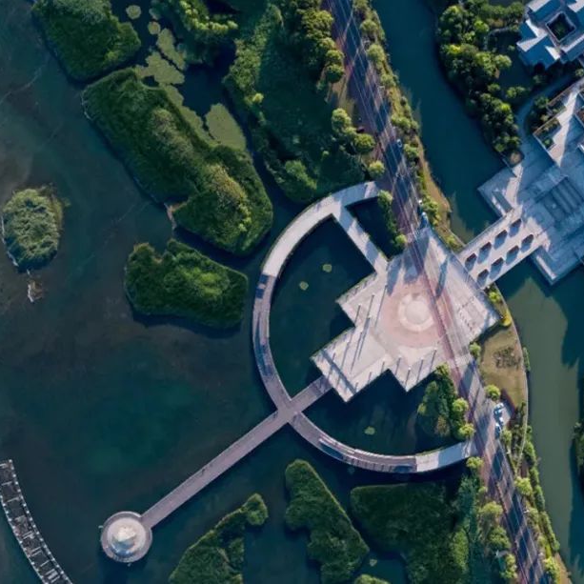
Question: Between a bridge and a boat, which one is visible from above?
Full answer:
I can see a bridge in this picture.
